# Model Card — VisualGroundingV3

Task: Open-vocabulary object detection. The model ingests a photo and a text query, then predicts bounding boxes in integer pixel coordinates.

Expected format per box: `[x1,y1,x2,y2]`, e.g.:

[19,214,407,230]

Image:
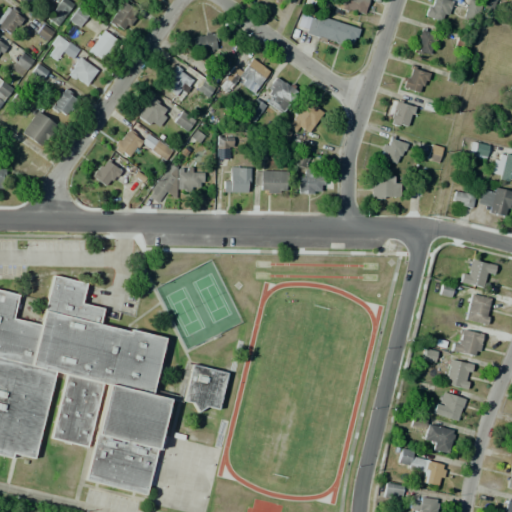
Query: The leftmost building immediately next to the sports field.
[0,276,174,495]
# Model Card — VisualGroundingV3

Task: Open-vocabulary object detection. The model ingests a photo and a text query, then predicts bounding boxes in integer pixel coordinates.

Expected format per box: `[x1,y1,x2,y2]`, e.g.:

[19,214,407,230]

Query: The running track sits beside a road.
[218,280,384,504]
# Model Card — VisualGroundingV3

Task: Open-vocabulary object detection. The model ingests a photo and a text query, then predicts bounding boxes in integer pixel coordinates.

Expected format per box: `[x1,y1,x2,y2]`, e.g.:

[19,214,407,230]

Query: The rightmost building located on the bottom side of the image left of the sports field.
[184,365,230,412]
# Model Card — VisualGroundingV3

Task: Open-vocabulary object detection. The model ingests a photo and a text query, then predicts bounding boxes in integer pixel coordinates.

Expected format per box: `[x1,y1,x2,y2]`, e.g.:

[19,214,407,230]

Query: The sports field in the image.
[230,287,370,494]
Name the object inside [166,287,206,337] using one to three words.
tennis court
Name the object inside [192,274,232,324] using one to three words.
tennis court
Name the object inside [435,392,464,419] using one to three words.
house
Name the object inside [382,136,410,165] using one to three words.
house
